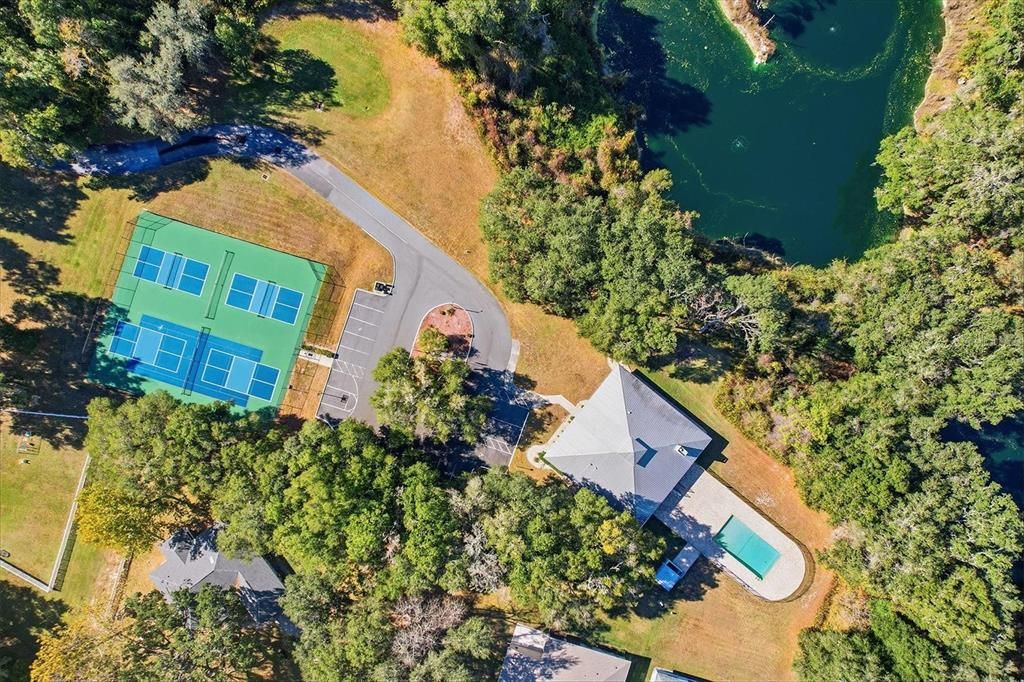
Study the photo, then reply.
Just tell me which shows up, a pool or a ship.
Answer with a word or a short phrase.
pool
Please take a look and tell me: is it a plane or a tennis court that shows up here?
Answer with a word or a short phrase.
tennis court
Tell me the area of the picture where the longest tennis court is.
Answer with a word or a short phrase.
left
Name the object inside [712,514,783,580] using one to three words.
swimming pool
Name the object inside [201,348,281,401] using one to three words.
sports court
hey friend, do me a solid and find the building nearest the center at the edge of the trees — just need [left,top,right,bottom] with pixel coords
[545,364,713,526]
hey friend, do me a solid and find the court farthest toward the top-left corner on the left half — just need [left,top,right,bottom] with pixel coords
[133,245,209,296]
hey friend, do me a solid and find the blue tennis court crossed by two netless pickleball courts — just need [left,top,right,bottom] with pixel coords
[127,314,263,406]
